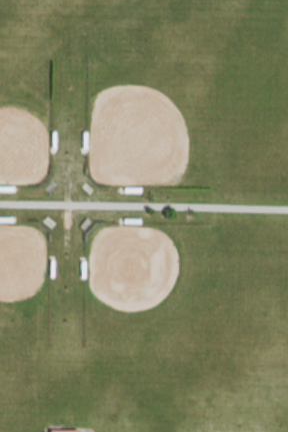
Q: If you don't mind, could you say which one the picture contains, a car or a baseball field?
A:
baseball field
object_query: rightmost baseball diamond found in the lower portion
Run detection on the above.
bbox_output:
[86,224,208,346]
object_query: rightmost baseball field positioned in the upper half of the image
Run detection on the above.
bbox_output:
[86,66,209,188]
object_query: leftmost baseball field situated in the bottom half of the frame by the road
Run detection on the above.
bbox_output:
[0,222,51,345]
